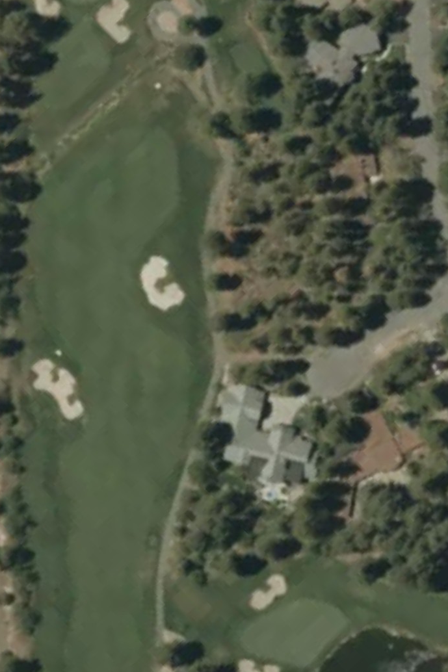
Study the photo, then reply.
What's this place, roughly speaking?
golf course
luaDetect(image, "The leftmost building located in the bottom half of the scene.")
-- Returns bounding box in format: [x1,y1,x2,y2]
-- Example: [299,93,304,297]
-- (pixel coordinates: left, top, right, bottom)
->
[221,391,312,482]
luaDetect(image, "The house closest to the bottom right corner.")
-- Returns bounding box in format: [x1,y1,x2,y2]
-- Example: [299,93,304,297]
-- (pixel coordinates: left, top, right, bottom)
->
[353,411,424,482]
